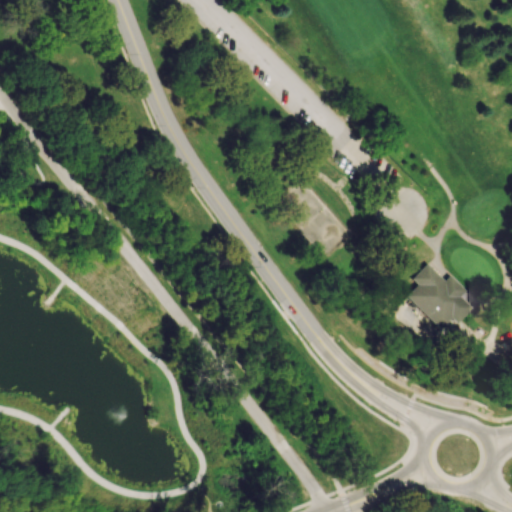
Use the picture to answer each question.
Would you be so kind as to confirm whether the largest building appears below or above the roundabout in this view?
above it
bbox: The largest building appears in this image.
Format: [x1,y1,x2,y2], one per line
[411,264,474,324]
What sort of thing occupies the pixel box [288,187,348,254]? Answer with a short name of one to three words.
sports court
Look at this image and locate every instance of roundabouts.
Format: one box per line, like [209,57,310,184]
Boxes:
[350,370,512,512]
